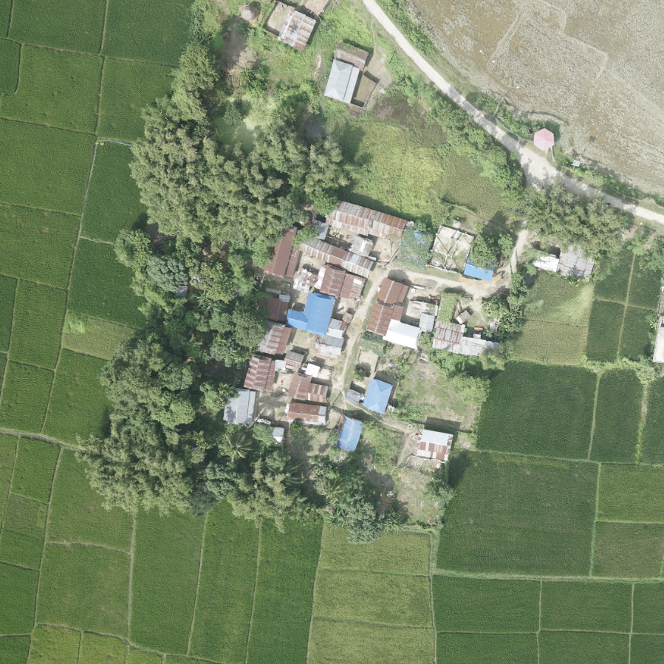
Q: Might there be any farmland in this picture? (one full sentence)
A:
Yes, farmland shows up in the scene.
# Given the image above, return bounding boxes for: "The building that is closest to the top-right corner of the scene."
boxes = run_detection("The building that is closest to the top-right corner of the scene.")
[535,129,553,152]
